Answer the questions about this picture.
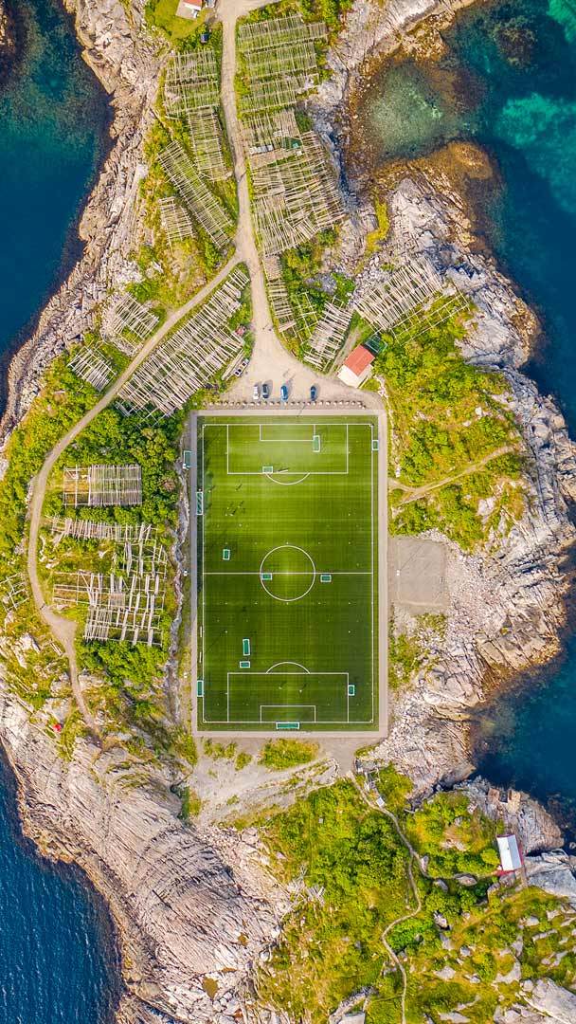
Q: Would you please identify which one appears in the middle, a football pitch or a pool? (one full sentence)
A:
What appears in the middle is a football pitch.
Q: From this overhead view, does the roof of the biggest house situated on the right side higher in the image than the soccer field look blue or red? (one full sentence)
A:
From above, the roof of the biggest house situated on the right side higher in the image than the soccer field appears red.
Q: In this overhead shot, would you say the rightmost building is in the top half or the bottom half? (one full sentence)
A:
You can find the rightmost building in the bottom half.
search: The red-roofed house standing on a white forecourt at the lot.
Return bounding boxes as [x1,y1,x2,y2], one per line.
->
[344,346,375,376]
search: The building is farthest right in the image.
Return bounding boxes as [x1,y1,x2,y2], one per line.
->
[497,832,523,874]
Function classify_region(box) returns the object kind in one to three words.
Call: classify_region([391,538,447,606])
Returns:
sports court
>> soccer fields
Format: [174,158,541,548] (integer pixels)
[197,416,378,731]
